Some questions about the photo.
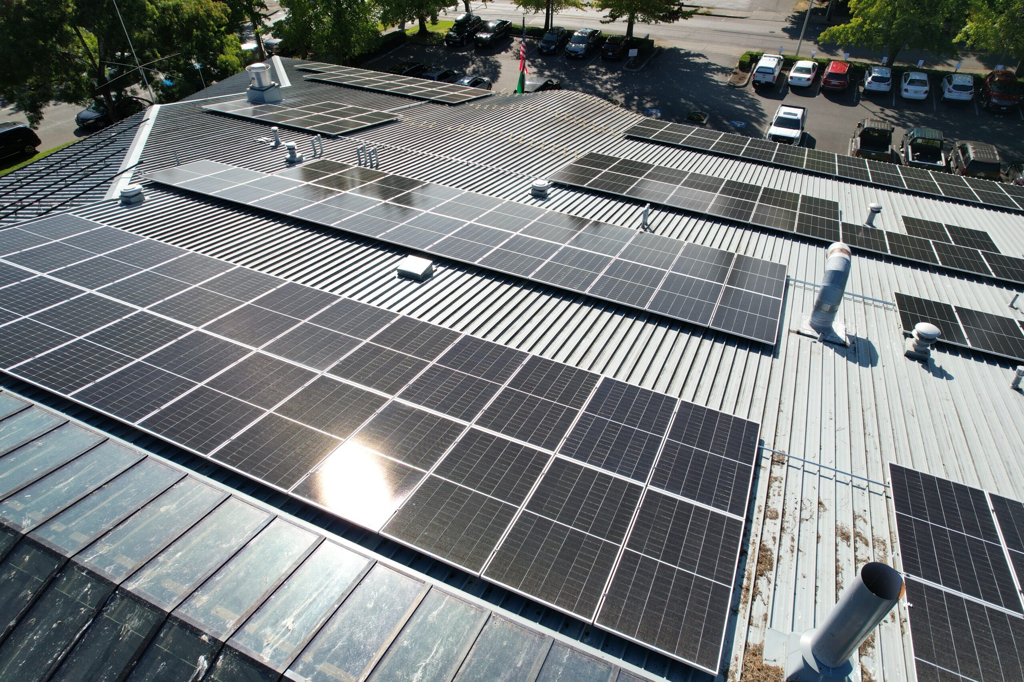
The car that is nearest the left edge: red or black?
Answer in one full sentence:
In this view, the car that is nearest the left edge is black.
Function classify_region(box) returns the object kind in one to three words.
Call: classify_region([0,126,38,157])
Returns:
car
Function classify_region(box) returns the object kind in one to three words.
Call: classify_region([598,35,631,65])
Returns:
car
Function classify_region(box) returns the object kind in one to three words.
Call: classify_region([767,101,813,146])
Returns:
truck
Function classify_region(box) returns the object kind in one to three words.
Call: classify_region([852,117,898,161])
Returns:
truck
